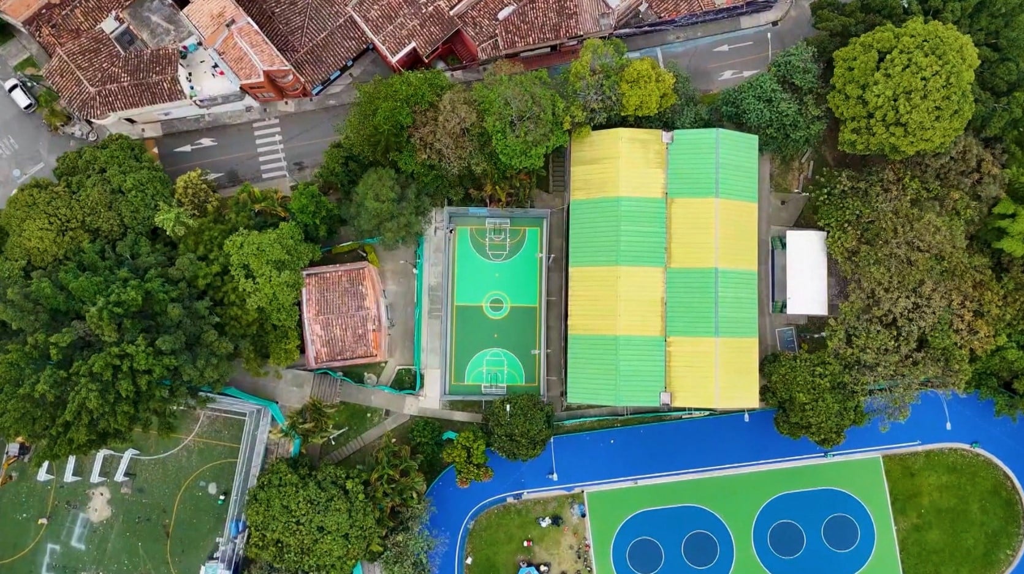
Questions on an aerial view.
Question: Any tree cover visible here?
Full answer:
Yes, tree cover can be seen from above here.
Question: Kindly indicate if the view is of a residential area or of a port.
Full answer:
The picture captures a residential area.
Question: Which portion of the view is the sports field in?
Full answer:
You can find the sports field in the bottom left area of the picture.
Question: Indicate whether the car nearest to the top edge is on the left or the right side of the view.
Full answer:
The car nearest to the top edge appears in the left half of the scene.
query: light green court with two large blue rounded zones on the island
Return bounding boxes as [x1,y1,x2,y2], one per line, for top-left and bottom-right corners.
[586,455,903,574]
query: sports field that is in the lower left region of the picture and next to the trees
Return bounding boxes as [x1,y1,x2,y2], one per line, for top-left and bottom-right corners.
[0,402,247,574]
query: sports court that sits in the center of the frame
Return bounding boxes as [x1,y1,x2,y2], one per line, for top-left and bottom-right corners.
[439,198,557,408]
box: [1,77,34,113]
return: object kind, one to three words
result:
car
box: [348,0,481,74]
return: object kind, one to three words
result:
house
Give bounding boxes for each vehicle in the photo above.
[0,443,31,483]
[1,77,34,113]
